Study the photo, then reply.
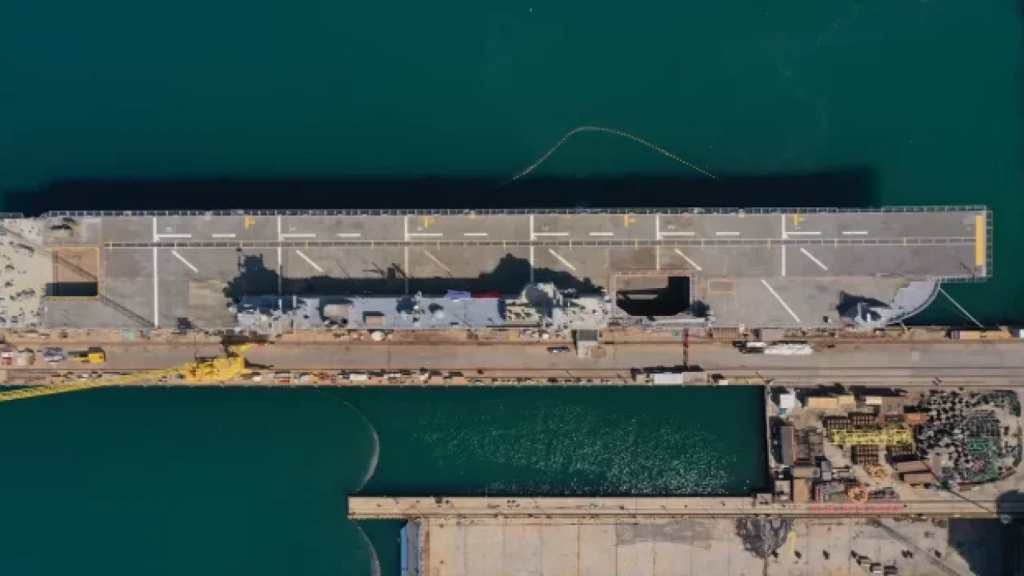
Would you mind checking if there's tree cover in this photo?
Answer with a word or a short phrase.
No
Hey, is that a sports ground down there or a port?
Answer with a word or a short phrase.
port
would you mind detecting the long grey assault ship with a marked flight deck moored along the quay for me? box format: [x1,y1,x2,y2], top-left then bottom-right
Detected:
[0,205,991,334]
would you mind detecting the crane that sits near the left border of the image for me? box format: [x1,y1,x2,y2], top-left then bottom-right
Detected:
[0,341,262,405]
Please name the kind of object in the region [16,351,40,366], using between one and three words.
vehicle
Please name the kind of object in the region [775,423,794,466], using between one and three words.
shed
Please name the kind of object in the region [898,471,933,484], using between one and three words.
shed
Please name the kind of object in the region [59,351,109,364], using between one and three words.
vehicle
